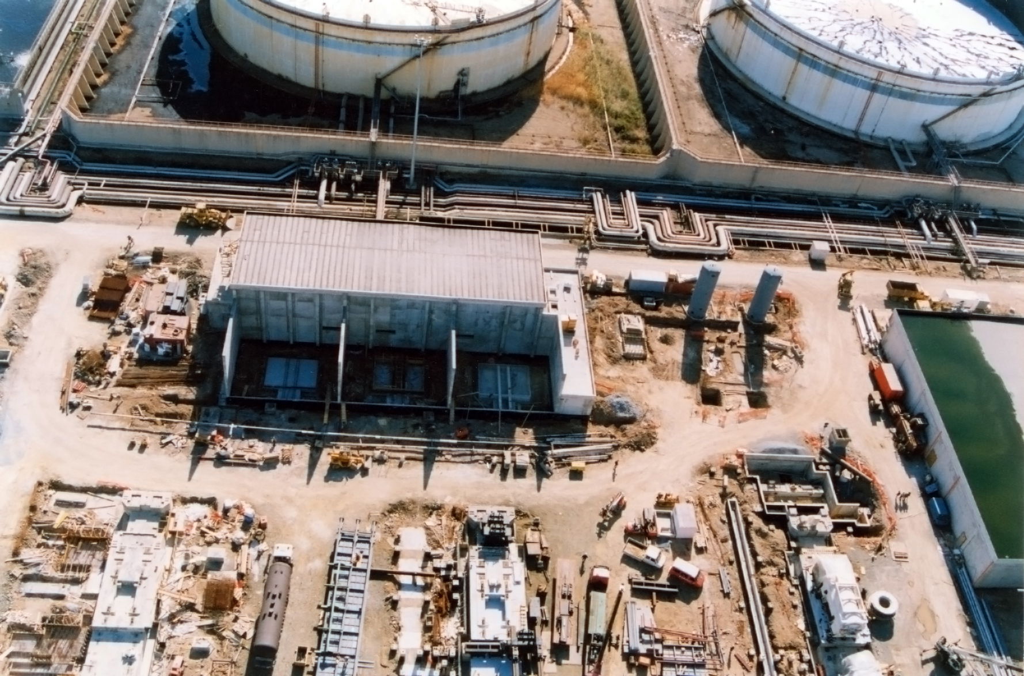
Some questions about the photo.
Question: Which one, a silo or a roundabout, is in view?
silo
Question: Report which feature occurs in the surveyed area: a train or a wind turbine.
wind turbine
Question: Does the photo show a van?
Yes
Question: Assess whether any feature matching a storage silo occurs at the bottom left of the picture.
No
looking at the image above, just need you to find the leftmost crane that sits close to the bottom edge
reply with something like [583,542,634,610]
[578,576,626,676]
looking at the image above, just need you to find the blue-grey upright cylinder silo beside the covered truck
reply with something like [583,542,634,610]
[687,258,726,326]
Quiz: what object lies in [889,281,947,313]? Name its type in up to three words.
truck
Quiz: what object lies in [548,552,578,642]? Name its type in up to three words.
trailer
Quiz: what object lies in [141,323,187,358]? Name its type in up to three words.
shed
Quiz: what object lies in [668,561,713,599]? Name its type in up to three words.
van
